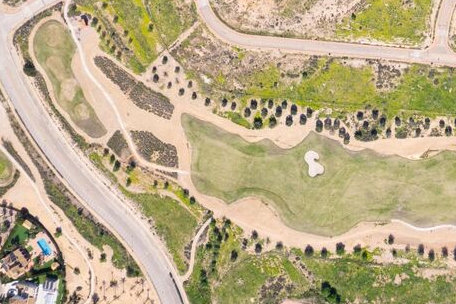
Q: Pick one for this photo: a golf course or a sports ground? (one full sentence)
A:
What you see here is a golf course.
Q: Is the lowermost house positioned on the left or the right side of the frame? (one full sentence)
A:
You can find the lowermost house on the left side of the picture.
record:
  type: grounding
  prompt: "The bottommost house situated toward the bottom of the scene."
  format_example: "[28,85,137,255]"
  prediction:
[7,280,41,304]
